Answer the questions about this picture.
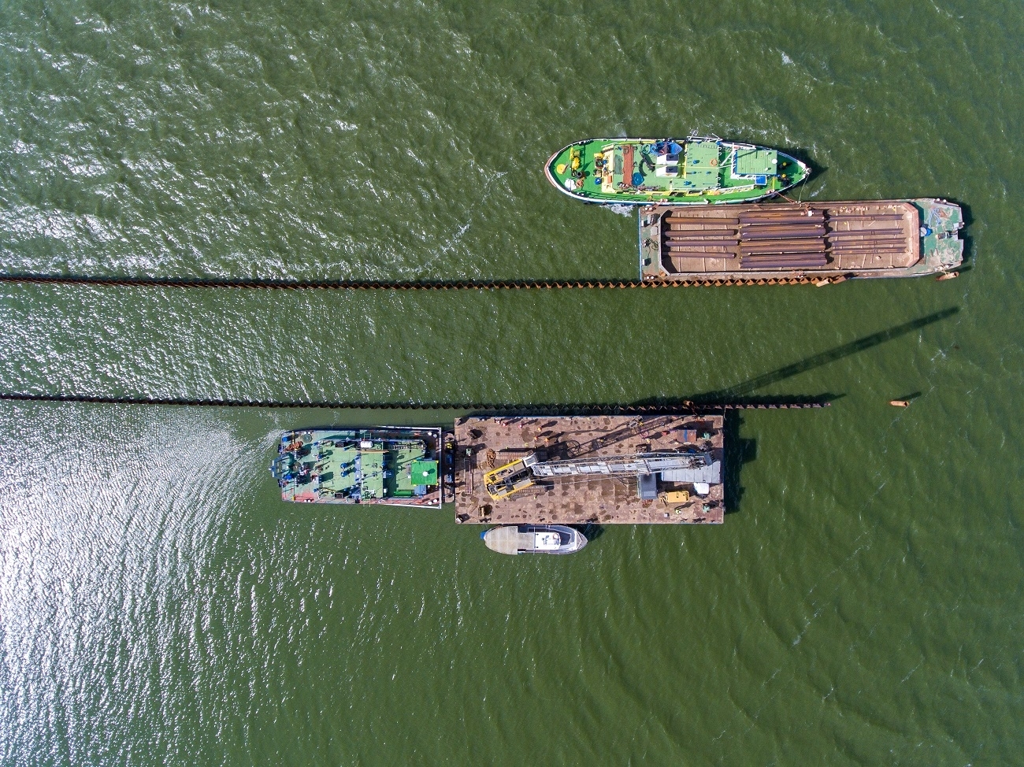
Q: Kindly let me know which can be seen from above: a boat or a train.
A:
boat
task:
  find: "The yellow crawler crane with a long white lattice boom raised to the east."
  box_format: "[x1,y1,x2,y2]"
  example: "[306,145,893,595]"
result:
[486,422,719,499]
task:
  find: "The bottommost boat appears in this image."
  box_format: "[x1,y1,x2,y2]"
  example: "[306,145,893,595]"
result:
[481,524,587,555]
